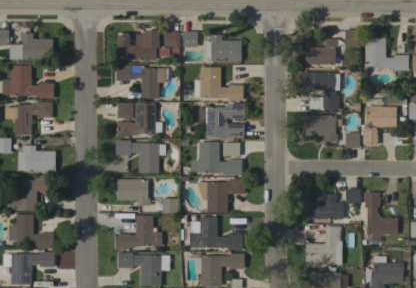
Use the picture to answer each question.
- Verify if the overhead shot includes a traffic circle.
No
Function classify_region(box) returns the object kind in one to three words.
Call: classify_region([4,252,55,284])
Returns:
house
